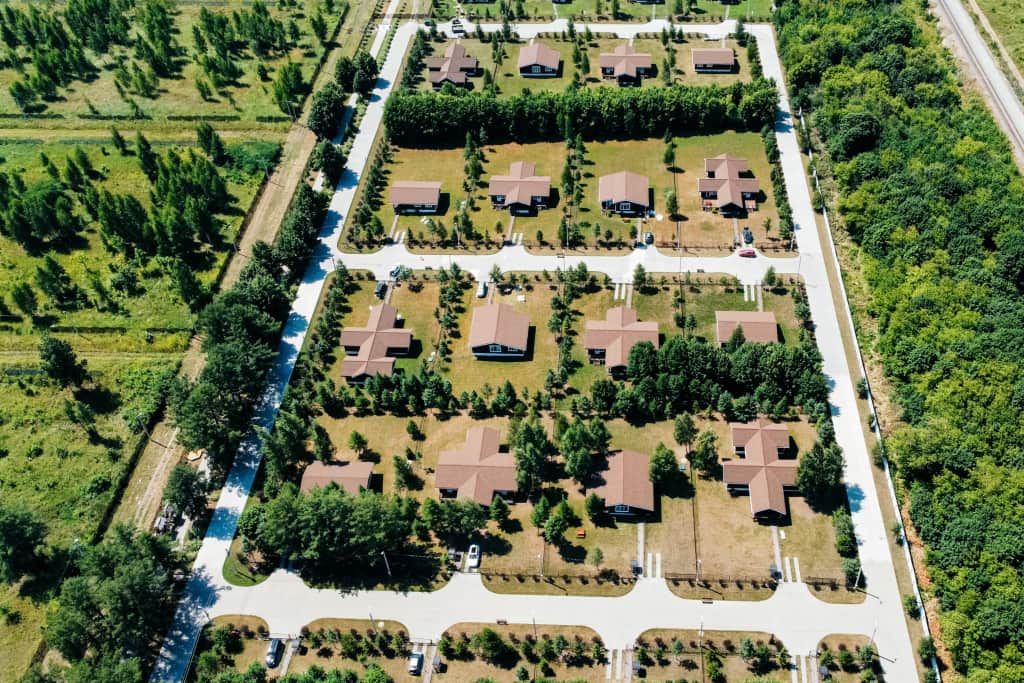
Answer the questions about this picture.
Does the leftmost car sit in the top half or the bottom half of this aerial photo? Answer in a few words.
bottom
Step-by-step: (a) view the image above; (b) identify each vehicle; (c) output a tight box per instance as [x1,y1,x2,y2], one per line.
[388,265,401,277]
[451,19,463,24]
[645,233,653,244]
[452,24,466,32]
[738,248,756,256]
[407,646,425,675]
[743,229,753,242]
[475,282,487,297]
[262,637,284,666]
[374,281,387,296]
[466,543,481,568]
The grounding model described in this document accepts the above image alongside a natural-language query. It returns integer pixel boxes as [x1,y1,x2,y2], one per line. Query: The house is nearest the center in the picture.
[467,303,531,362]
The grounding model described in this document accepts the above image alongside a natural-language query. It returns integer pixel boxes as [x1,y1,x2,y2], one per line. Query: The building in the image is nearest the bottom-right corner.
[724,420,804,528]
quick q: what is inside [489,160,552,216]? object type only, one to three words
house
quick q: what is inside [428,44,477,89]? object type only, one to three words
house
